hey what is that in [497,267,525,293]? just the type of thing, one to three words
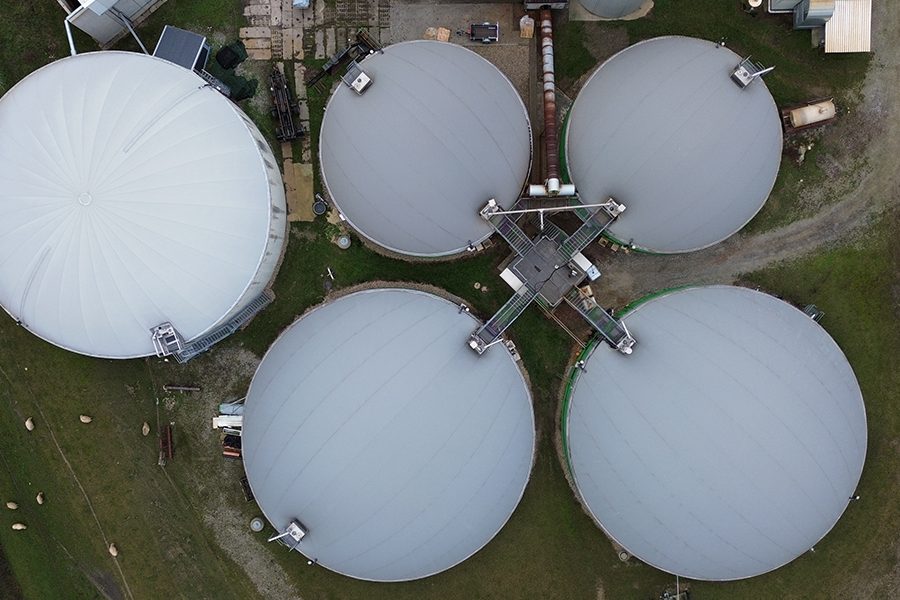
shipping container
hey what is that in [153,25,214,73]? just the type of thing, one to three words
shed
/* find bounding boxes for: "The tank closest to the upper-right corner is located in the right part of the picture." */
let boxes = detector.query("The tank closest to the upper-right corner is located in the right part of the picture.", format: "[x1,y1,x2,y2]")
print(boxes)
[778,98,837,135]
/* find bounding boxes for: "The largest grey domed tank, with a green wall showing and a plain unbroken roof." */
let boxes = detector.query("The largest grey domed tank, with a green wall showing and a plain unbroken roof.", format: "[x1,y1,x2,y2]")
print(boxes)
[560,282,868,584]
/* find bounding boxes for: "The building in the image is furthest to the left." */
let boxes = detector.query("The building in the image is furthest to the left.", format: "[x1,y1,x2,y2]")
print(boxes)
[57,0,173,51]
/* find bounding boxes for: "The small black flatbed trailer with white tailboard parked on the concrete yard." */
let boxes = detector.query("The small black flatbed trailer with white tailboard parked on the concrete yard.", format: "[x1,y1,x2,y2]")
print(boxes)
[457,20,498,45]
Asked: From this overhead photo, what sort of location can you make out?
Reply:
industrial area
